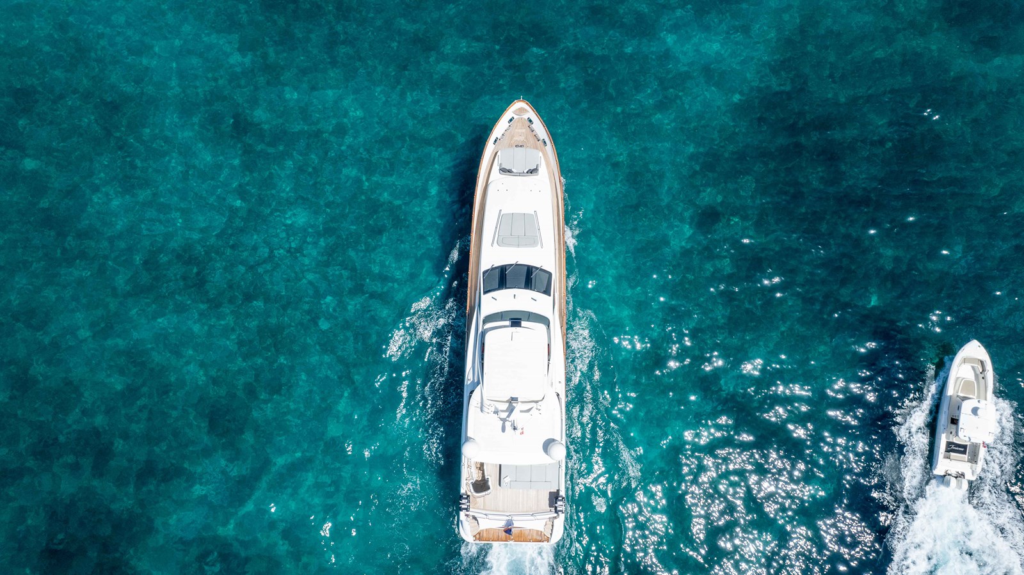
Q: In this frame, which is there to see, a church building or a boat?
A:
boat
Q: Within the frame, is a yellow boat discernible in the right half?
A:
No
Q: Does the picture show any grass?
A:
No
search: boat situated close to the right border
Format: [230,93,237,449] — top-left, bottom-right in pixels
[926,339,996,492]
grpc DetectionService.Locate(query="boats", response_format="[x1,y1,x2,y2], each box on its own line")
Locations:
[460,95,566,544]
[926,339,996,492]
